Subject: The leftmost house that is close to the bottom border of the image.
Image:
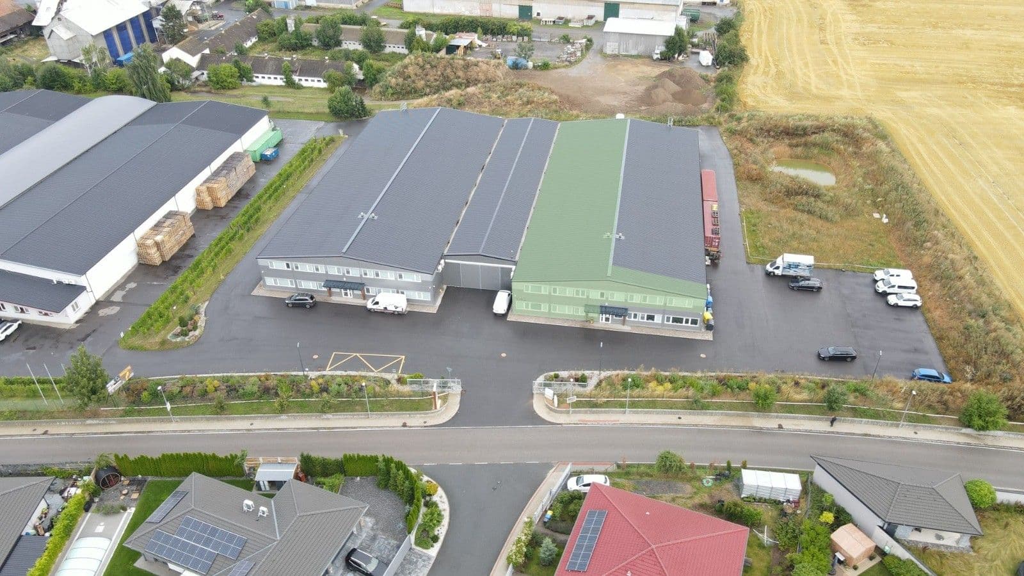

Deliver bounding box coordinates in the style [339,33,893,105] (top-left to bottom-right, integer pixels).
[0,476,56,573]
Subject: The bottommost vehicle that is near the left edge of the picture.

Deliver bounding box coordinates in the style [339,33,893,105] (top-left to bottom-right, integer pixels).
[0,320,24,343]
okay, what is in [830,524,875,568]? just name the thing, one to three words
shed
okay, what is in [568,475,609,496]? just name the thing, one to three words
car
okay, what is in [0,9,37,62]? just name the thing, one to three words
barn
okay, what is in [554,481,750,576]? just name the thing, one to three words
house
